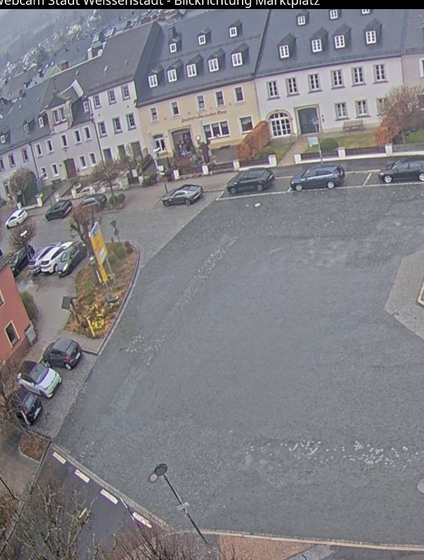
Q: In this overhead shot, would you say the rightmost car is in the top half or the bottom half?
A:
top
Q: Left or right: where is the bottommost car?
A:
left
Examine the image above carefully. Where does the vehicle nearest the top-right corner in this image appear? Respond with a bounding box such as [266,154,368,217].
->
[375,153,424,183]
